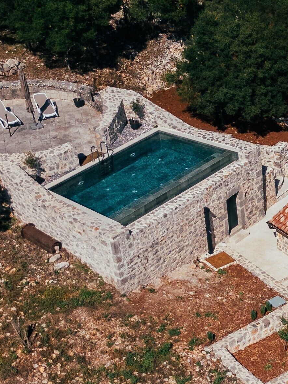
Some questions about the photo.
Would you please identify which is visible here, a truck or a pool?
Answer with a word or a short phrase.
pool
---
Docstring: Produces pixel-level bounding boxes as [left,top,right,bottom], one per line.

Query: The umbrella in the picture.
[23,76,43,127]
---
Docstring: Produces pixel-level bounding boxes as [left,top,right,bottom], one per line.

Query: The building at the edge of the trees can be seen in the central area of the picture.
[0,144,266,308]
